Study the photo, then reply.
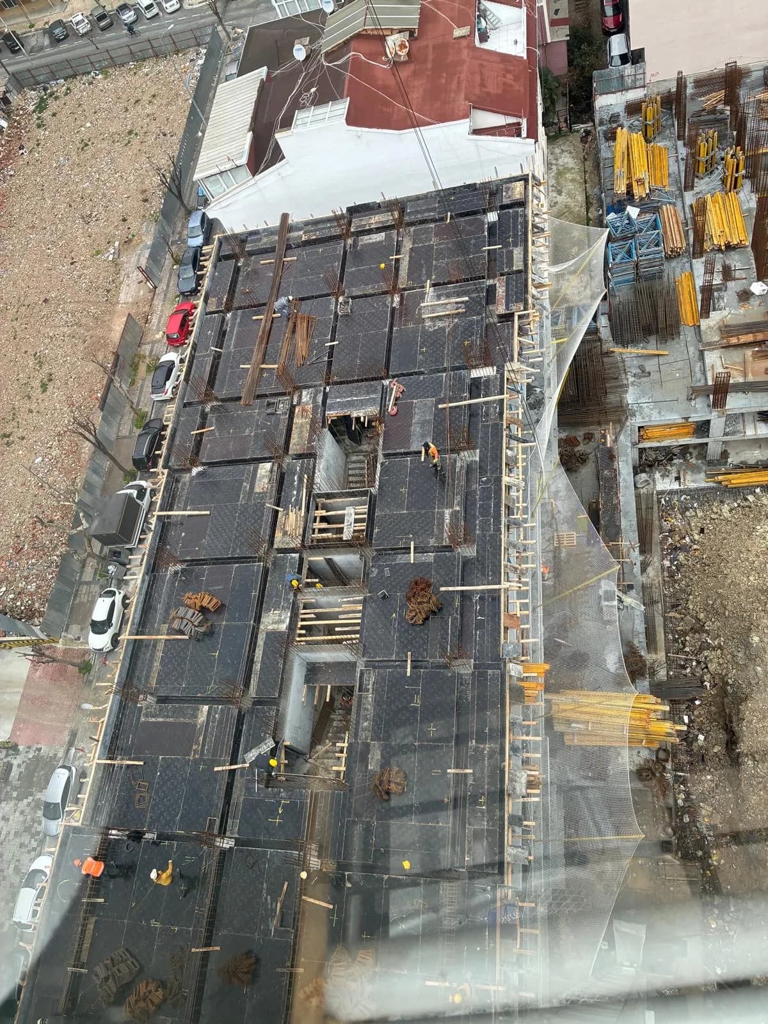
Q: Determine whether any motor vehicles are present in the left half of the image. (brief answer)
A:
Yes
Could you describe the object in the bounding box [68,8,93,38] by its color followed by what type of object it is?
white car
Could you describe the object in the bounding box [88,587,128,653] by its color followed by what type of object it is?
white car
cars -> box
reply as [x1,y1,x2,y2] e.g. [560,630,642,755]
[599,0,627,36]
[88,587,128,653]
[0,28,22,56]
[192,185,214,210]
[90,2,115,33]
[604,27,633,65]
[135,0,161,23]
[127,417,169,471]
[114,0,139,28]
[46,15,70,45]
[147,353,185,403]
[183,209,214,251]
[174,248,206,296]
[160,0,183,16]
[6,850,56,938]
[163,304,197,347]
[68,8,93,38]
